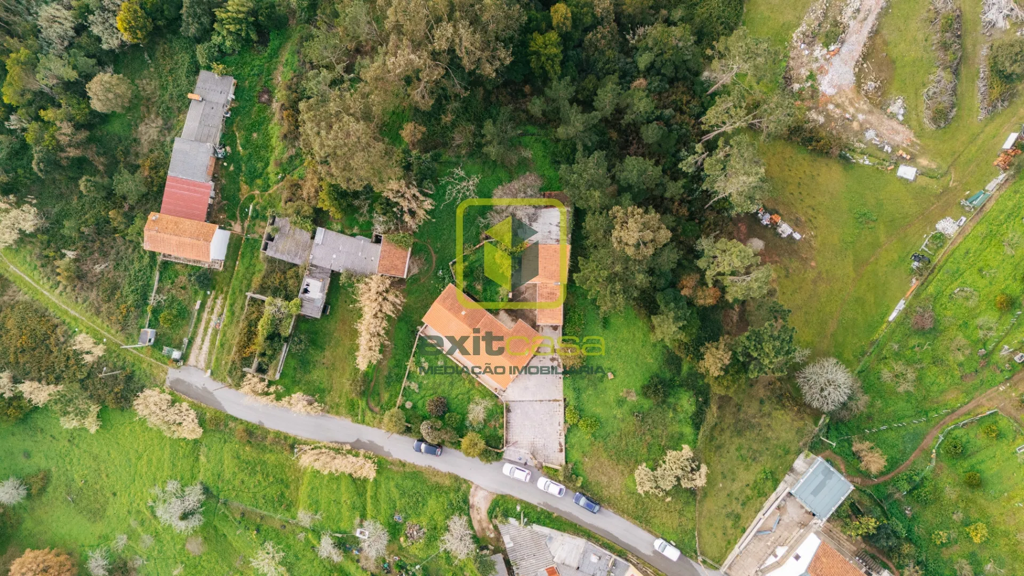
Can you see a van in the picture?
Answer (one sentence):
Yes, the picture does show a van.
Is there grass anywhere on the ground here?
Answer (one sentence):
Yes, grass can be seen from above here.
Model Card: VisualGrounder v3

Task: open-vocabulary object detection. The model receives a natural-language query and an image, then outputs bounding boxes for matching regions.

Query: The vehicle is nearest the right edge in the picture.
[652,537,685,566]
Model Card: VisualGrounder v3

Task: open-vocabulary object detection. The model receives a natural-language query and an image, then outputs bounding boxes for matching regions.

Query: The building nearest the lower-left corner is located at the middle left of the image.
[139,328,162,345]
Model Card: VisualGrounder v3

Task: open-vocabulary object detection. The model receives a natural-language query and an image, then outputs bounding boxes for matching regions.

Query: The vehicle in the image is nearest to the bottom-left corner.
[412,439,443,458]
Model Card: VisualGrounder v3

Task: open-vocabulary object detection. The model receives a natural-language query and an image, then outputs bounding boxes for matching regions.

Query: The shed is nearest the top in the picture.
[181,70,240,144]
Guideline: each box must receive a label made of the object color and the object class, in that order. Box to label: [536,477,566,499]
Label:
white car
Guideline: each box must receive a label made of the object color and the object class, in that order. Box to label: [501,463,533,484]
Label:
white car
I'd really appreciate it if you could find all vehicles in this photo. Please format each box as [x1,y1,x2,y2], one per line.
[572,492,603,517]
[501,463,533,484]
[536,477,566,499]
[412,439,443,458]
[652,537,685,566]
